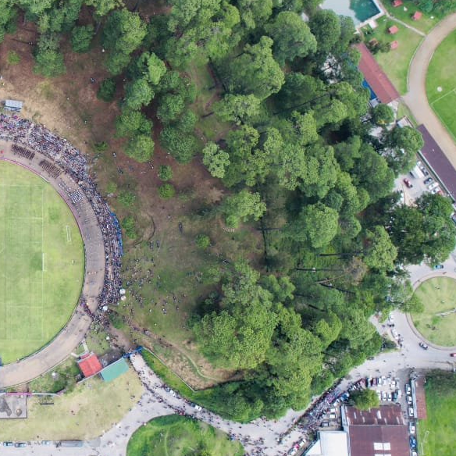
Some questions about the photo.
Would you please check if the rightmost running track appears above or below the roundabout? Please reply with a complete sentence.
It's above the roundabout that the rightmost running track shows up.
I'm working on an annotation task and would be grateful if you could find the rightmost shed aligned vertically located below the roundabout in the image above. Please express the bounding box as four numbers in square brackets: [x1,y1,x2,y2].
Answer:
[410,376,427,417]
